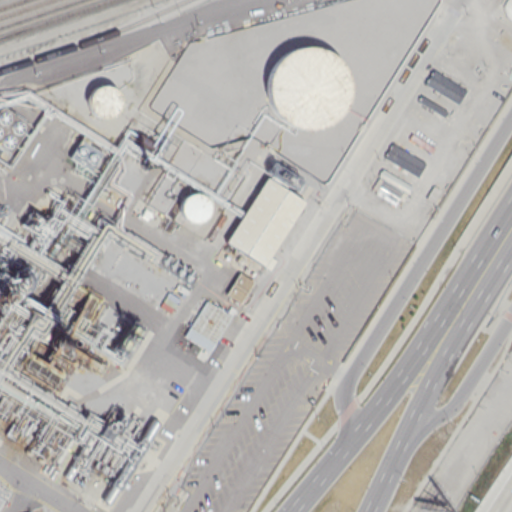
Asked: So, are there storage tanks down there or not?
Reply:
Yes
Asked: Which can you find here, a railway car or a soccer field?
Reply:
railway car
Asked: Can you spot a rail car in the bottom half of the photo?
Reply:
No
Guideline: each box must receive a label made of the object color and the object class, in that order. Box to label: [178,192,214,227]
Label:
white storage tank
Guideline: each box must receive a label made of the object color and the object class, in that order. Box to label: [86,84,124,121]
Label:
white storage tank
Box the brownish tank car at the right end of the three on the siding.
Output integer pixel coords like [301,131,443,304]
[75,28,120,46]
